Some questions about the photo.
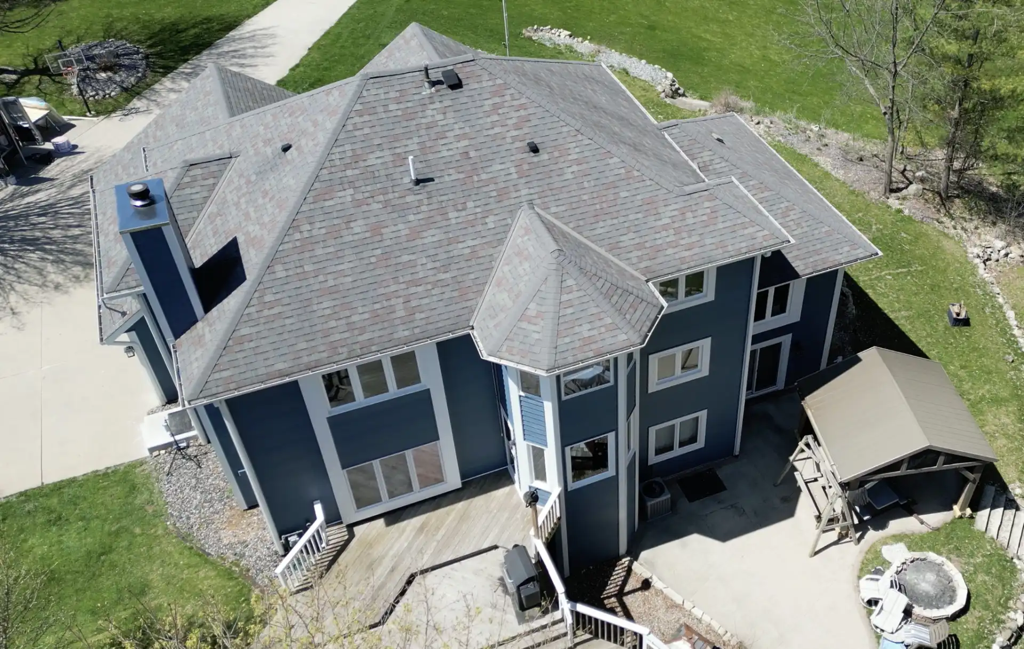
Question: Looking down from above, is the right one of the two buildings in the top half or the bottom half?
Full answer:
The bottom half of the photo is where the right one of the two buildings is.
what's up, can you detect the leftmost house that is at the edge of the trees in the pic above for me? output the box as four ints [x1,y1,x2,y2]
[84,21,880,580]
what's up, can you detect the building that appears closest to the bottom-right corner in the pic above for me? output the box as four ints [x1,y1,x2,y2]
[795,353,997,538]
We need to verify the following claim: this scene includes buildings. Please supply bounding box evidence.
[795,353,997,538]
[84,21,880,580]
